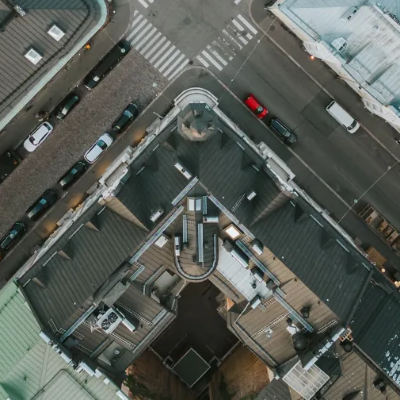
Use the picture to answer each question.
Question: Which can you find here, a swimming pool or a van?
van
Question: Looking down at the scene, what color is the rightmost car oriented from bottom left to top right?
black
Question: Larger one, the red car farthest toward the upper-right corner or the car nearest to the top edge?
the car nearest to the top edge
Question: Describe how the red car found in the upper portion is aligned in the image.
on a diagonal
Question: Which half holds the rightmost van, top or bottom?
top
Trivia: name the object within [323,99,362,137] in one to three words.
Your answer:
van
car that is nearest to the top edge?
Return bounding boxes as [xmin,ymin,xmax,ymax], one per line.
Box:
[80,37,135,92]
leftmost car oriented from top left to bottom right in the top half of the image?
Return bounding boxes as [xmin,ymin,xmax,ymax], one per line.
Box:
[241,90,271,121]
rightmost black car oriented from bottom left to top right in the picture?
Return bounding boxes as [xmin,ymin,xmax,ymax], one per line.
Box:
[108,100,144,136]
